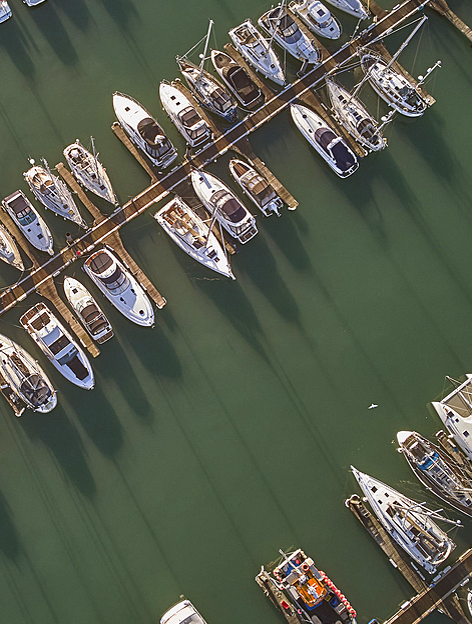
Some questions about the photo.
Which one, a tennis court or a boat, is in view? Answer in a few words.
boat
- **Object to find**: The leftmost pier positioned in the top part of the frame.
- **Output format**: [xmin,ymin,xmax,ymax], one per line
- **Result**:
[0,207,46,273]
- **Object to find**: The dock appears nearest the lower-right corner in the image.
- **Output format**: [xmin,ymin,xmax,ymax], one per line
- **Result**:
[433,595,466,624]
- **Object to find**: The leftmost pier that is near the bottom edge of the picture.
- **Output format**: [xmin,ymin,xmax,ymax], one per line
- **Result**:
[257,565,302,624]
